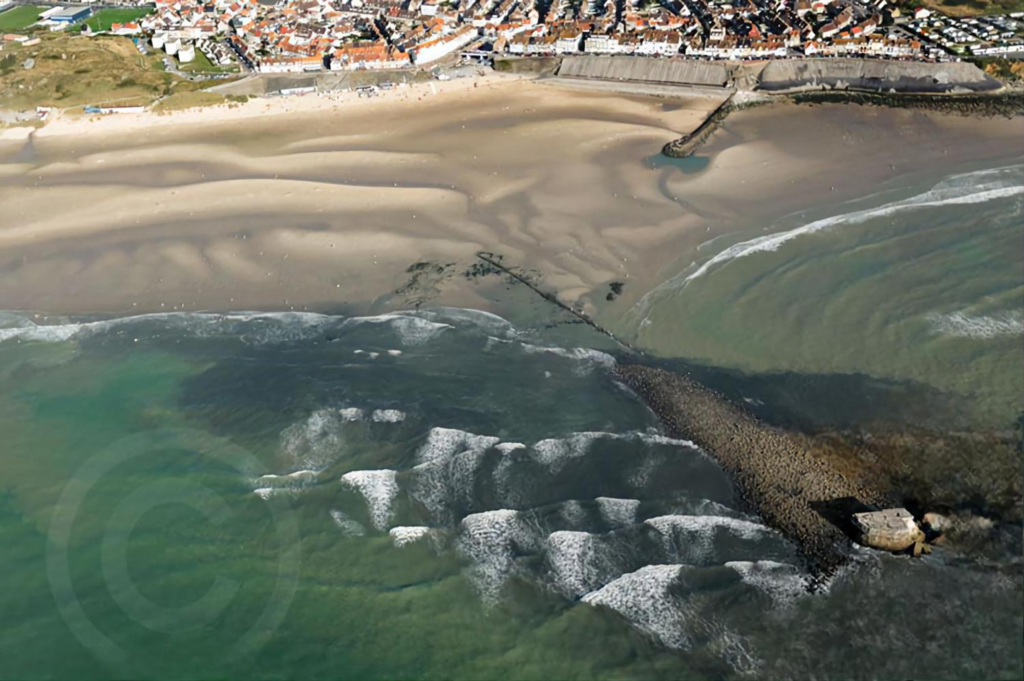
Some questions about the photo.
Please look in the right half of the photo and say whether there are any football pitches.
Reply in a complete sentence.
No, I see no football pitch in the right half of the photo.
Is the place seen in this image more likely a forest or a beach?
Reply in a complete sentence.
It's a beach.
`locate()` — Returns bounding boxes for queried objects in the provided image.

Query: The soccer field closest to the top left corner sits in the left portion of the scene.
[0,4,50,29]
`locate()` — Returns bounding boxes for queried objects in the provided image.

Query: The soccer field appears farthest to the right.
[77,7,145,32]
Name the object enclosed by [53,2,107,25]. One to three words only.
building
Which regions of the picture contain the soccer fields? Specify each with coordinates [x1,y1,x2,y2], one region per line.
[0,4,50,29]
[77,7,145,32]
